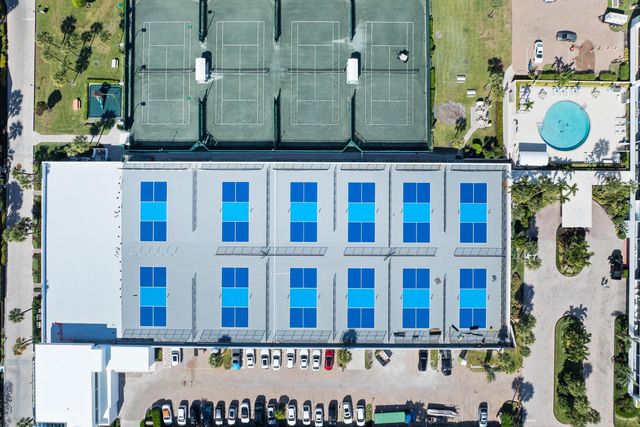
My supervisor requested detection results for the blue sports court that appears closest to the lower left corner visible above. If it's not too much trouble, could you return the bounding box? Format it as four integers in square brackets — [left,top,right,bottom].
[136,266,169,326]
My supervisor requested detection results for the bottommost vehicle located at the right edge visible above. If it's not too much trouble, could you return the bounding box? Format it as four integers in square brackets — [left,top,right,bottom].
[609,254,622,278]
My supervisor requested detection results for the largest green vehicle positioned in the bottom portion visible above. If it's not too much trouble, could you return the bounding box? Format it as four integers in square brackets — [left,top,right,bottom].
[376,409,414,426]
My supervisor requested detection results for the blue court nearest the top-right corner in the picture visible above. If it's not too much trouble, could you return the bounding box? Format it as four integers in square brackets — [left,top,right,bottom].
[458,183,491,243]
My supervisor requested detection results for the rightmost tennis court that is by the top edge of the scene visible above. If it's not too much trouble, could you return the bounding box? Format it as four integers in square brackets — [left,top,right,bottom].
[352,0,428,151]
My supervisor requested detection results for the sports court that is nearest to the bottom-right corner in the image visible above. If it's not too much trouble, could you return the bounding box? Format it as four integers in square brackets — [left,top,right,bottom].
[458,268,491,328]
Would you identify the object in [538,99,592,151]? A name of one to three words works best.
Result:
swimming pool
